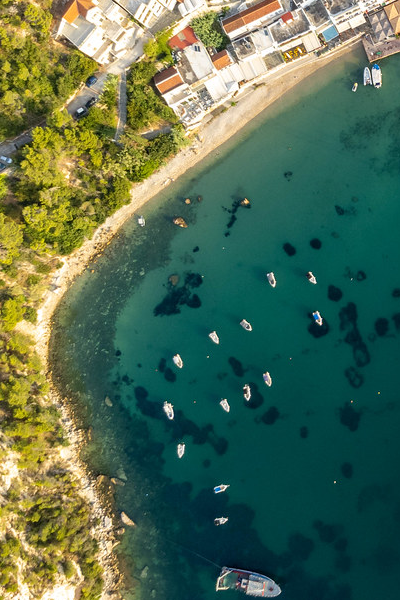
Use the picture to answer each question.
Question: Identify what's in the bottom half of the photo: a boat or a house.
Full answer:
The one visible in the bottom half of the photo is a boat.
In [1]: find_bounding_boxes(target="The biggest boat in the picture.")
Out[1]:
[215,564,281,596]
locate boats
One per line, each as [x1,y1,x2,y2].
[163,400,173,419]
[243,383,250,401]
[364,66,371,87]
[139,214,145,226]
[220,398,229,411]
[306,271,315,284]
[212,485,228,493]
[313,309,321,325]
[372,64,382,89]
[263,370,271,386]
[172,353,182,368]
[212,518,228,525]
[209,330,218,344]
[215,564,281,596]
[239,318,251,330]
[178,441,185,457]
[267,271,275,287]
